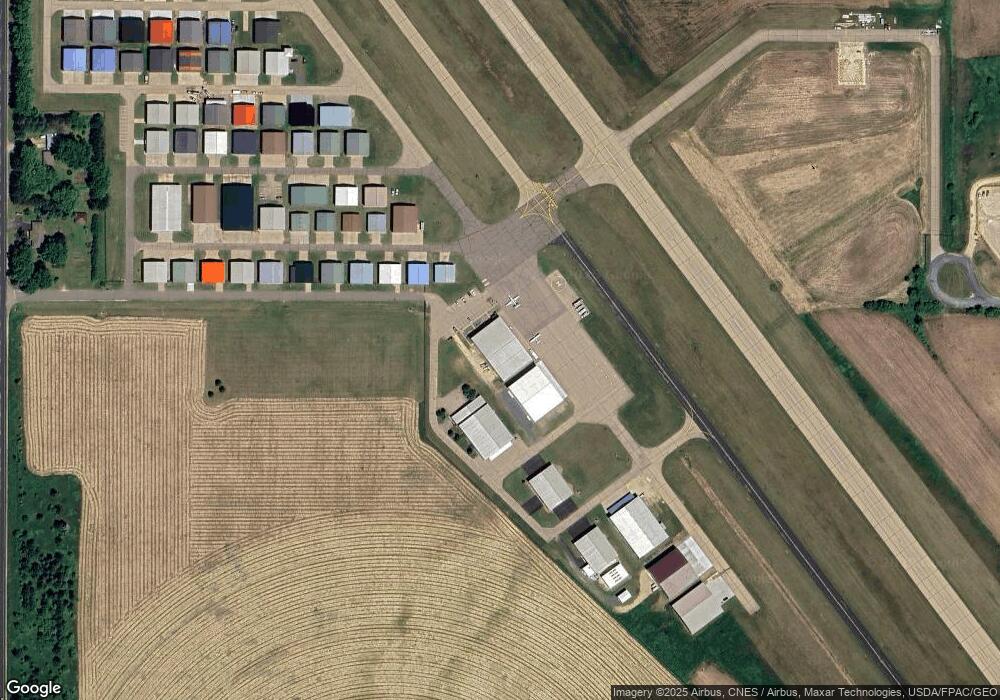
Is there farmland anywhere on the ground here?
Yes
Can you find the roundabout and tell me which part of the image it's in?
right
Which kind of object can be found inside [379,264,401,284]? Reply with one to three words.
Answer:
hangar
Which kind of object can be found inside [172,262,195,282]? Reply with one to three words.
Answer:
hangar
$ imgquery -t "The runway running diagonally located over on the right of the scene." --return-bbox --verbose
[479,0,1000,693]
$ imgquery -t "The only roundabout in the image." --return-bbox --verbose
[928,253,1000,307]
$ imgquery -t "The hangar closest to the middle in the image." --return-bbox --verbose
[472,316,533,383]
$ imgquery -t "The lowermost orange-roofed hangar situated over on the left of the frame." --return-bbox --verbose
[201,262,224,282]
